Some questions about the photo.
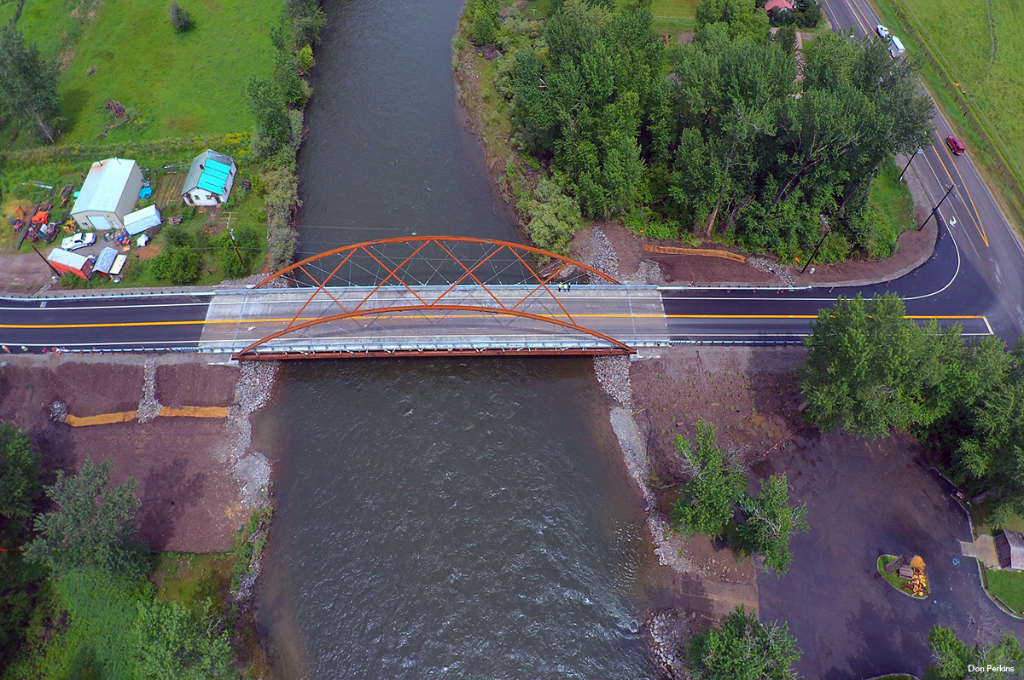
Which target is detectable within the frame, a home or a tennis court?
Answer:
home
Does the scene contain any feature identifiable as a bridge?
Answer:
Yes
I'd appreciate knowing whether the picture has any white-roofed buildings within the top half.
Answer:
Yes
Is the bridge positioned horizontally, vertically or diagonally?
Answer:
horizontally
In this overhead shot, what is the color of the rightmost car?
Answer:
red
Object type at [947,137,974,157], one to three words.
car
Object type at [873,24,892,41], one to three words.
vehicle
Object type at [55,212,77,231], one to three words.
work vehicle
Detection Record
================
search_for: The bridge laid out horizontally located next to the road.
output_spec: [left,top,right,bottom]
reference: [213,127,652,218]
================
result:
[192,236,675,372]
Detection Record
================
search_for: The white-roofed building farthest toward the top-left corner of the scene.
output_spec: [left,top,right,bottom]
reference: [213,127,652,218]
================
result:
[68,153,140,231]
